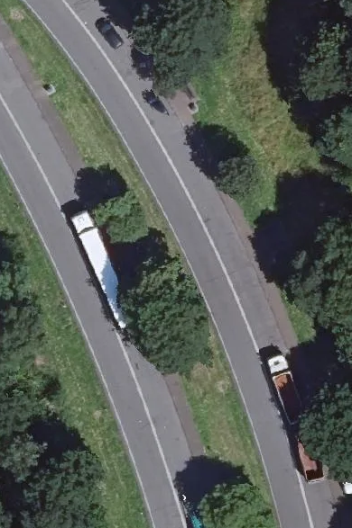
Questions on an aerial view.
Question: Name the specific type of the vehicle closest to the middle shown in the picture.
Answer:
truck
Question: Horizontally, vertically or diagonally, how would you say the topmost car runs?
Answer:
diagonally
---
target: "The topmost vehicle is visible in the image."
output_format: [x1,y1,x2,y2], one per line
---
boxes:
[96,17,123,50]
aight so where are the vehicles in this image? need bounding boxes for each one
[142,89,170,117]
[133,52,156,82]
[96,17,123,50]
[264,354,307,424]
[178,489,206,528]
[69,209,135,328]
